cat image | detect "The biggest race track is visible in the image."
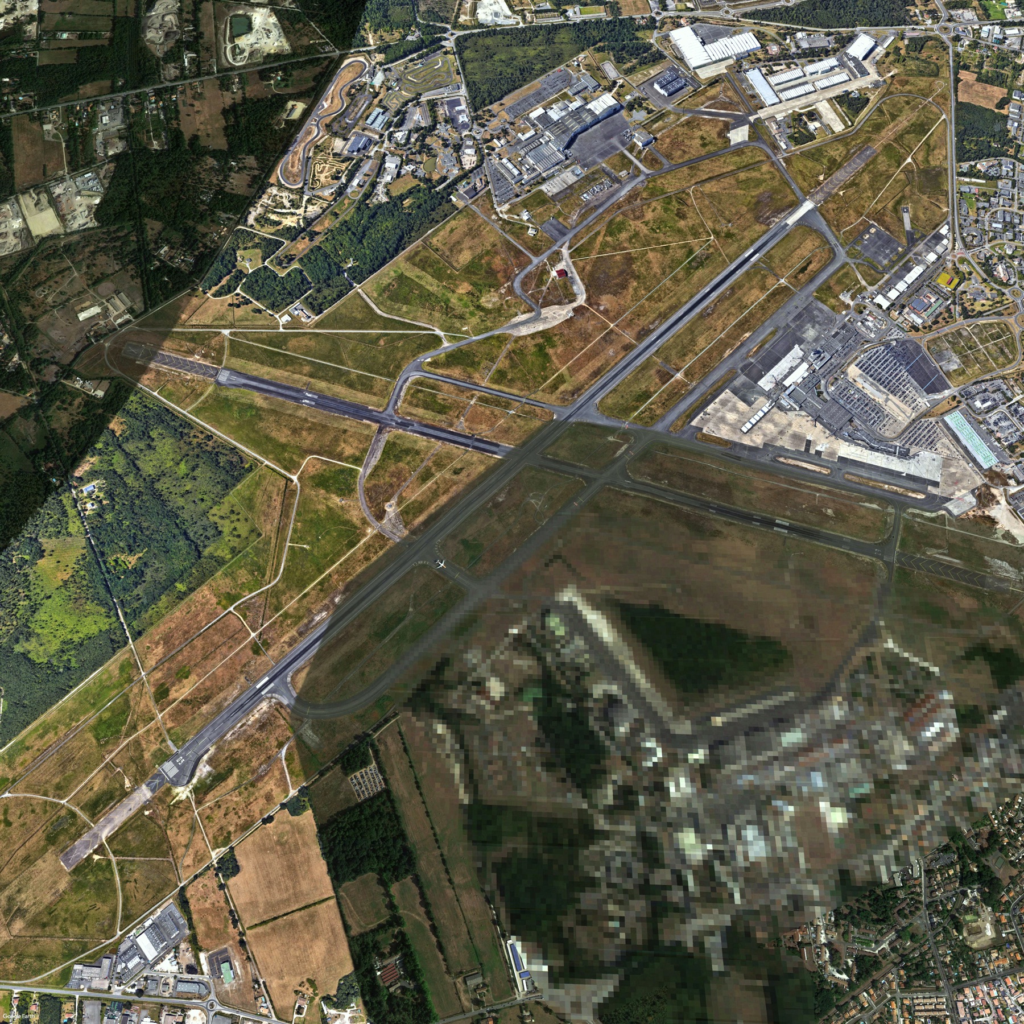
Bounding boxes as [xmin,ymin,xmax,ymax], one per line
[277,57,374,189]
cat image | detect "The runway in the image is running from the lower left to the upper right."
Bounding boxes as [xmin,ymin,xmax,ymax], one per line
[59,90,938,870]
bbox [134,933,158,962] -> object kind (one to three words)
building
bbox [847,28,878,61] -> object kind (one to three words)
hangar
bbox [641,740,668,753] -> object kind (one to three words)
building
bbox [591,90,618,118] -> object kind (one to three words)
hangar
